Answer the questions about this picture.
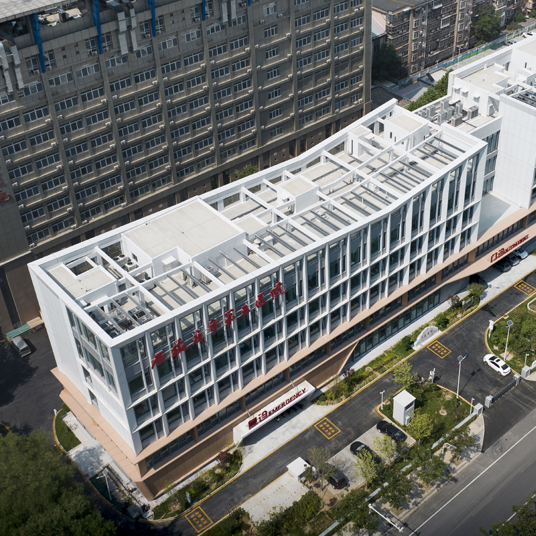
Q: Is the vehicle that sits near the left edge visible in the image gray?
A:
Yes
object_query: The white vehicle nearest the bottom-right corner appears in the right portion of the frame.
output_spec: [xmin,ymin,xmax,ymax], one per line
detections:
[481,357,513,378]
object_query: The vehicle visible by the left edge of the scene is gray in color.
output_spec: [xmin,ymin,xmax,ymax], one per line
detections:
[8,331,34,360]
